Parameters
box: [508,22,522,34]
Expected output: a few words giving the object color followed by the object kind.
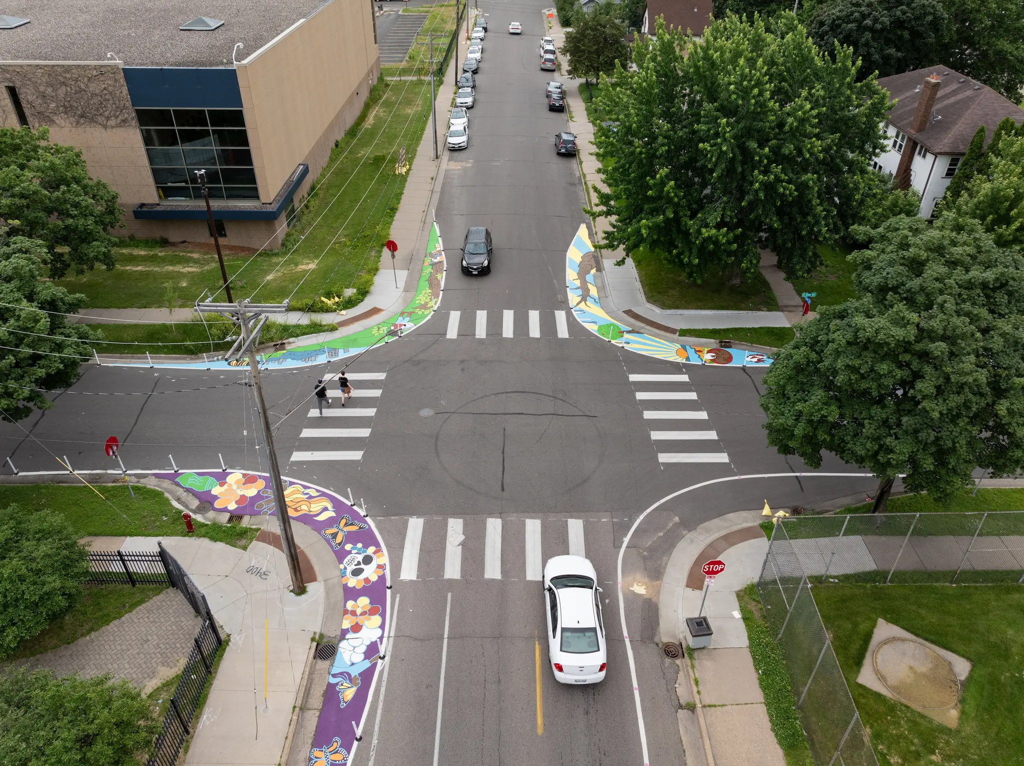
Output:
white vehicle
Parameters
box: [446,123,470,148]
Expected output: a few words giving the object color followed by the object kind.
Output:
white car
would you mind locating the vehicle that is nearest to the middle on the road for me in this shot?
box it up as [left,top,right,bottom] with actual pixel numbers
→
[460,224,496,274]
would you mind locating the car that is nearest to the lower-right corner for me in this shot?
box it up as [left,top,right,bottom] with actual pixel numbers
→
[538,557,611,686]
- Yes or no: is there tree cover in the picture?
Yes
